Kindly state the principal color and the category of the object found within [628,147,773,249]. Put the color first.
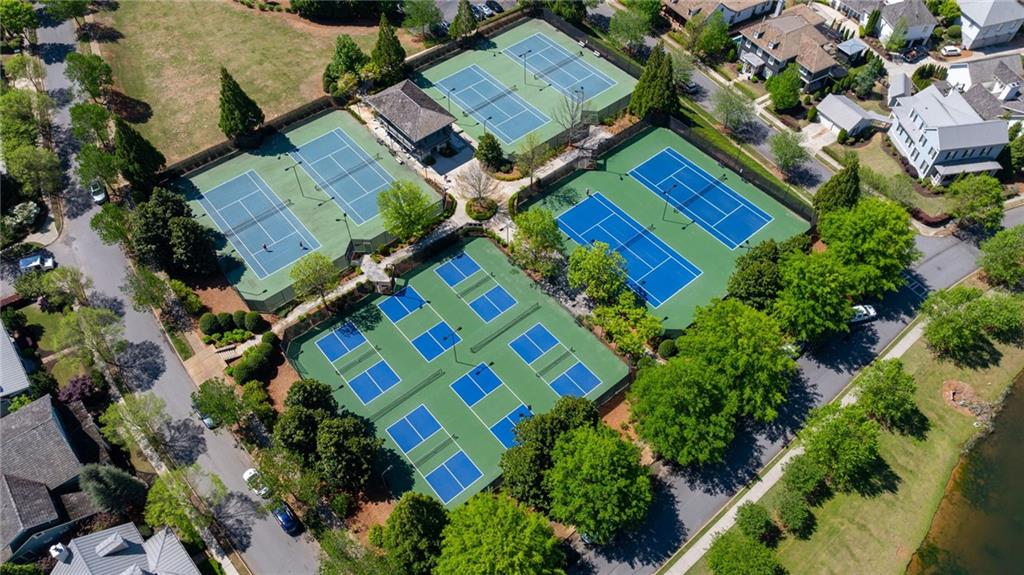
blue tennis court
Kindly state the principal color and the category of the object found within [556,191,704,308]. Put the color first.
blue tennis court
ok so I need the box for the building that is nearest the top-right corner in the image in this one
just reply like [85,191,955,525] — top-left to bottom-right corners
[951,1,1024,52]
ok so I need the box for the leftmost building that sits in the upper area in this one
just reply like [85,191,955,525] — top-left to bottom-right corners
[365,78,458,163]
